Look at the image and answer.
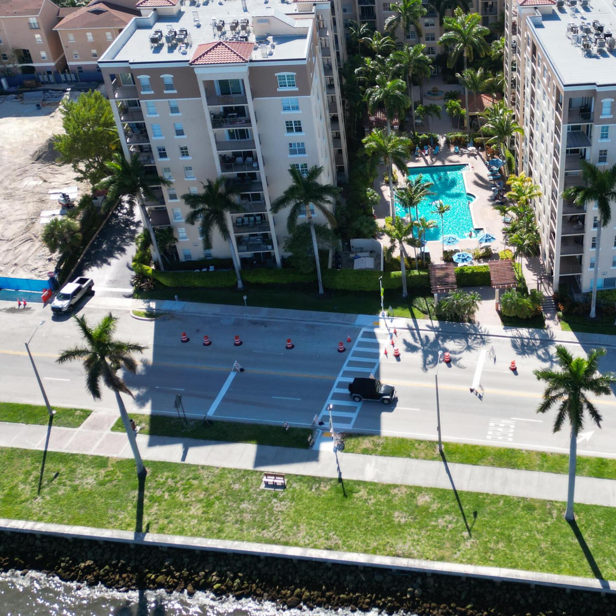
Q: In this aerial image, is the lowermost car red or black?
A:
black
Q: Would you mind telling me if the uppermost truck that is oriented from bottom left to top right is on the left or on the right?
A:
left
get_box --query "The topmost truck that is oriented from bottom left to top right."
[56,280,95,314]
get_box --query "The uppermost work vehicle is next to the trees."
[56,184,72,211]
